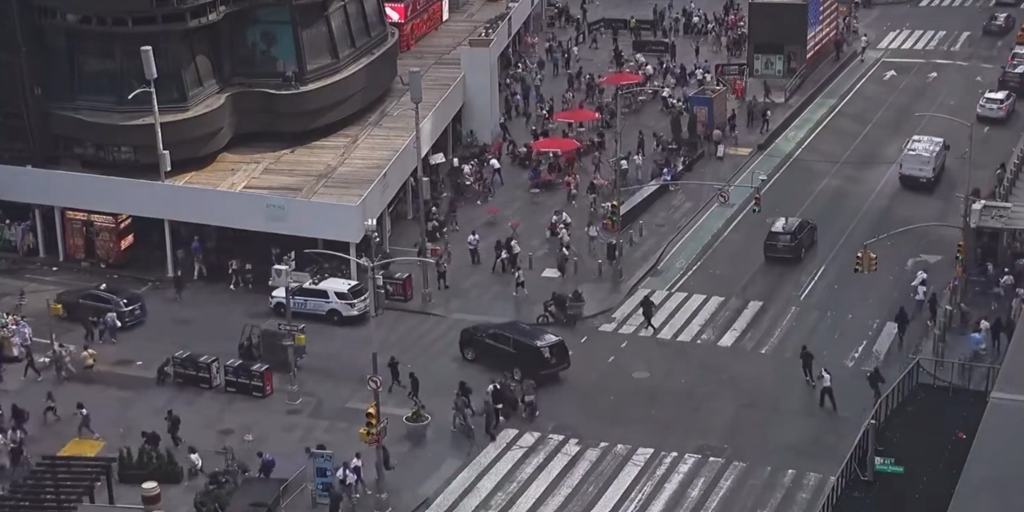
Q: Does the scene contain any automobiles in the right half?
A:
Yes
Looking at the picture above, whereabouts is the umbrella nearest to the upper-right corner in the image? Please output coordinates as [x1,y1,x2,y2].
[600,75,643,115]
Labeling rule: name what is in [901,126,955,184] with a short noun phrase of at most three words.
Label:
vehicle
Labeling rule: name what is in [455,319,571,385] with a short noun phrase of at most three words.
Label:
car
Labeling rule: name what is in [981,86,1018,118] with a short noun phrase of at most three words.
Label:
car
